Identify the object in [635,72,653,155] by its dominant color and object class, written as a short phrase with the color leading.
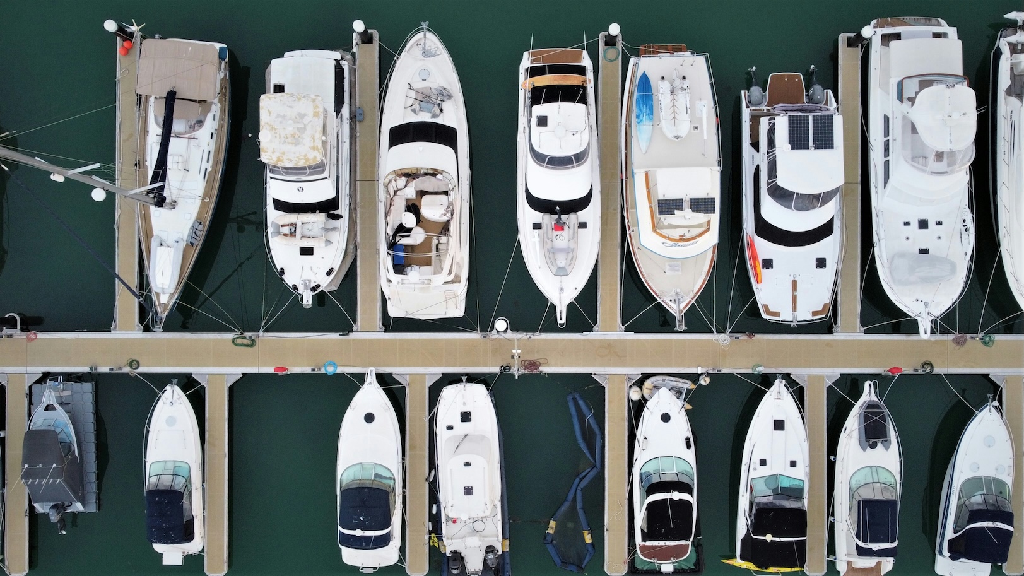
blue boat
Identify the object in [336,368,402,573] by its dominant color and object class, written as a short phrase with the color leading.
white boat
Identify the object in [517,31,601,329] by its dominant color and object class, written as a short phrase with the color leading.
white boat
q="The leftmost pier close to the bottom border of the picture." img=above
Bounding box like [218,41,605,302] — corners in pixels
[0,373,45,575]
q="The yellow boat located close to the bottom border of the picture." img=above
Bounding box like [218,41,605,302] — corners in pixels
[719,556,802,572]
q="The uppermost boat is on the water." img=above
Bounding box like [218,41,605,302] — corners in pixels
[1003,9,1024,51]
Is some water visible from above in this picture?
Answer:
Yes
